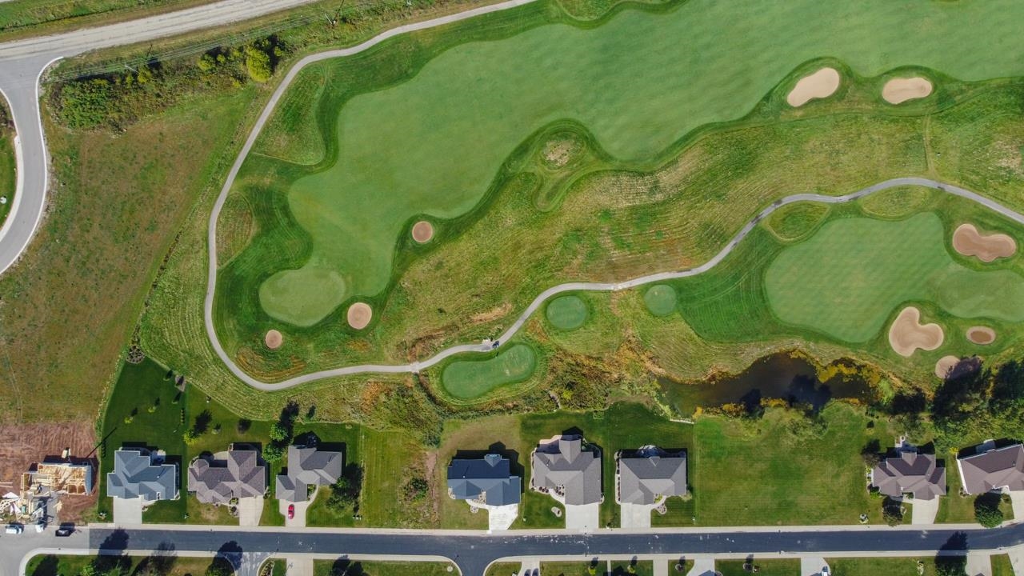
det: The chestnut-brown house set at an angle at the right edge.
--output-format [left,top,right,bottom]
[954,445,1024,498]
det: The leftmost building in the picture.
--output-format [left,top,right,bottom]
[17,465,91,498]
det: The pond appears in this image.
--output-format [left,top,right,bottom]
[655,353,879,417]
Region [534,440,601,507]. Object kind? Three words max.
house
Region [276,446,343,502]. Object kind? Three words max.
house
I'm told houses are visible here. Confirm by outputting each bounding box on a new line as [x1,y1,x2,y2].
[107,450,178,501]
[620,456,686,505]
[870,452,946,500]
[534,440,601,507]
[188,450,266,503]
[954,445,1024,498]
[447,454,522,509]
[276,446,343,502]
[17,465,91,498]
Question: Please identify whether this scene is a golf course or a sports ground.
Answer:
golf course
